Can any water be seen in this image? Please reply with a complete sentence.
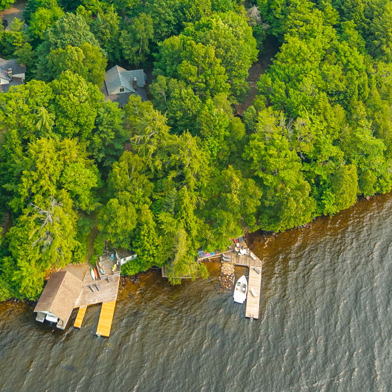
Yes, there's water in this view.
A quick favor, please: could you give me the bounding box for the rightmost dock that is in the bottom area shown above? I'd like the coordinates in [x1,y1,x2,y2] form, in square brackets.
[222,247,262,322]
